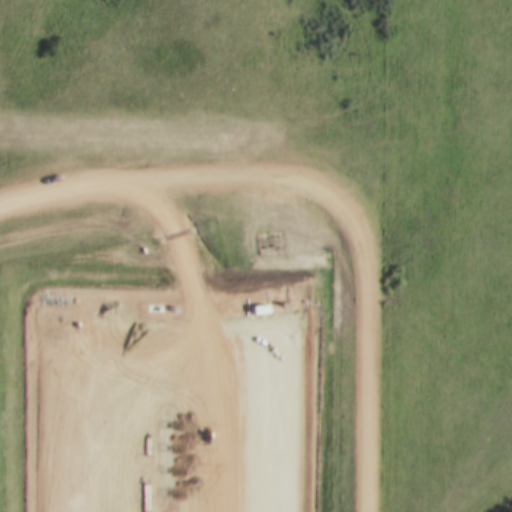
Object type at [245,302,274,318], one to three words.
vehicle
